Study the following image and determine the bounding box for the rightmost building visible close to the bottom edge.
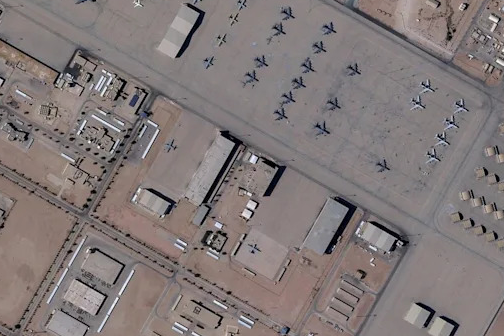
[429,315,455,336]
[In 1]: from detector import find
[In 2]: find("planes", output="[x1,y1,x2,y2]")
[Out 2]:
[229,13,238,25]
[443,115,456,128]
[272,22,285,34]
[321,21,334,34]
[280,6,293,18]
[281,90,293,102]
[203,55,213,68]
[311,39,324,52]
[132,0,143,8]
[425,149,438,161]
[301,57,313,69]
[453,99,467,112]
[244,69,257,82]
[216,34,226,46]
[165,140,174,152]
[249,244,260,253]
[253,53,266,66]
[274,106,287,118]
[346,62,359,74]
[314,121,327,134]
[420,80,433,92]
[290,75,304,88]
[326,97,339,109]
[435,132,448,145]
[375,159,388,172]
[409,96,422,108]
